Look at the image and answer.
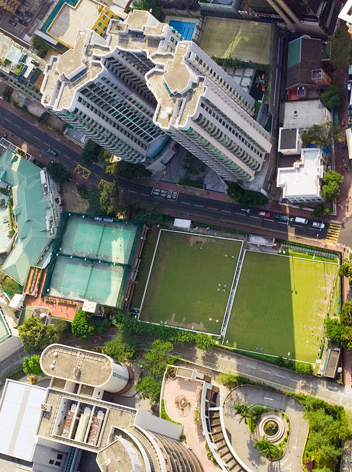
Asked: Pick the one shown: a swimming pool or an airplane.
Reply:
swimming pool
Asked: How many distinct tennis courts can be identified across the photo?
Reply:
3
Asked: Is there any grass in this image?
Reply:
Yes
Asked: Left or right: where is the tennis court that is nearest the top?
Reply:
right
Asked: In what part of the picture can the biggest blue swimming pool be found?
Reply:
top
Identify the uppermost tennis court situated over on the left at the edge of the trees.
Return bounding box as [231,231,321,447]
[54,213,137,266]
